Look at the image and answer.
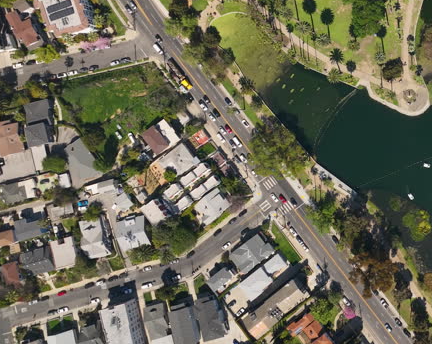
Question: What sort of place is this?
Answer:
residential area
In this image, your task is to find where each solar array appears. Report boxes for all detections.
[48,7,75,20]
[46,0,72,12]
